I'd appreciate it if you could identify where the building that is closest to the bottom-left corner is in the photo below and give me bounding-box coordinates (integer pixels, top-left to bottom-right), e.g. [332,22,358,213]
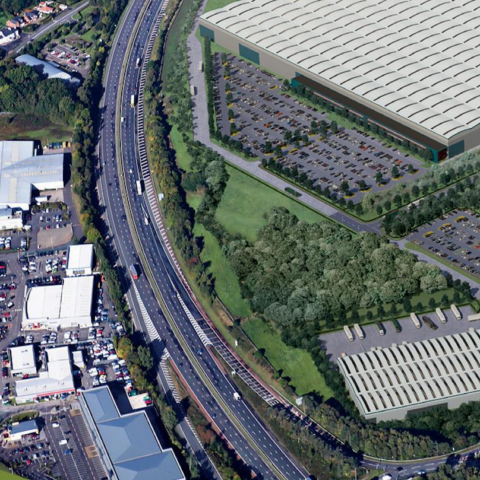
[5,419,39,444]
